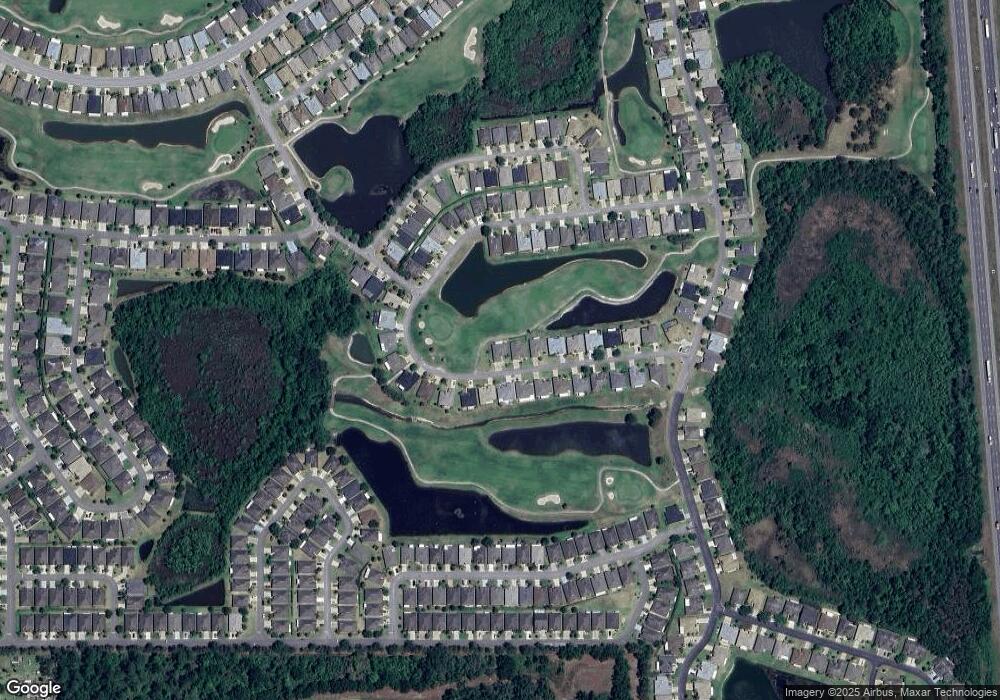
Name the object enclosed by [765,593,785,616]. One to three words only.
house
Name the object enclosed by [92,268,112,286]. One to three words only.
house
